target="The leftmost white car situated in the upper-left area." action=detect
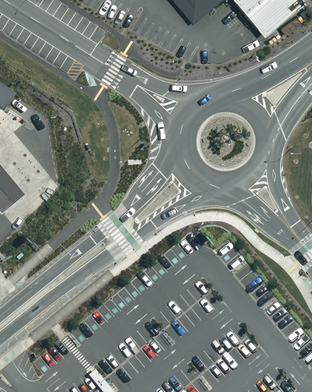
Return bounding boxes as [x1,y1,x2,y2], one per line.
[12,100,27,112]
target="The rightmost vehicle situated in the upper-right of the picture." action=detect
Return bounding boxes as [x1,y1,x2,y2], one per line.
[261,62,278,74]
